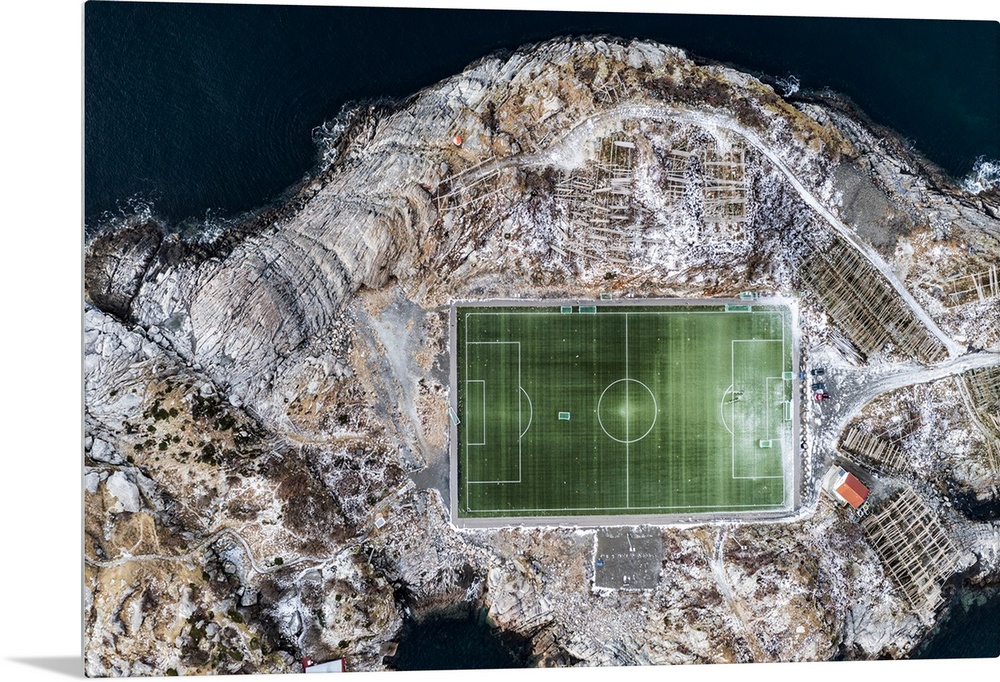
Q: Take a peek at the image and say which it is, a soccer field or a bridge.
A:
soccer field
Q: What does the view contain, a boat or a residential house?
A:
residential house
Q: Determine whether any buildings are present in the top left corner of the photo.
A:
No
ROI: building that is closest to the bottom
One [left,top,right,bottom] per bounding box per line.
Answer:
[301,652,357,682]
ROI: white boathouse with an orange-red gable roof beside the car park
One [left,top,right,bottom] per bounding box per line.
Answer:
[821,463,870,508]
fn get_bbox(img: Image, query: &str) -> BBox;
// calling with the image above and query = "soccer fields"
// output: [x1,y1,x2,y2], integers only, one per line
[450,298,800,527]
